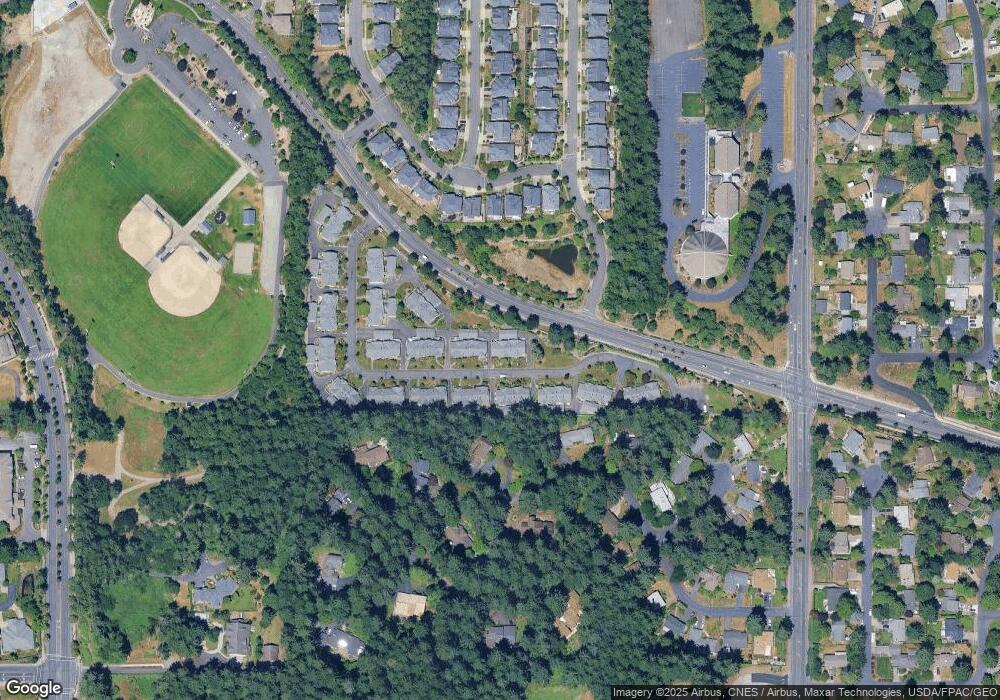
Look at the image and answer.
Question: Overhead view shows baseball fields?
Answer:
Yes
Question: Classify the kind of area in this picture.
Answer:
residential area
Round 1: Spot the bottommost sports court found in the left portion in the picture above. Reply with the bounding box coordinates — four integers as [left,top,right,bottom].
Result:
[233,243,254,273]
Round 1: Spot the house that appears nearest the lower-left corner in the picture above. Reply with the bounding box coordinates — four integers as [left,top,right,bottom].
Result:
[3,618,34,652]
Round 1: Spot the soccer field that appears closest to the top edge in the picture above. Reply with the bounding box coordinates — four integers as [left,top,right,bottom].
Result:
[71,77,240,226]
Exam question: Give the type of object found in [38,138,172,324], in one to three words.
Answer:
baseball field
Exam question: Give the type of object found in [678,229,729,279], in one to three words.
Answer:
building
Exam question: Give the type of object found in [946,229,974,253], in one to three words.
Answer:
house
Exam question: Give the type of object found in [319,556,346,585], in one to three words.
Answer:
house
